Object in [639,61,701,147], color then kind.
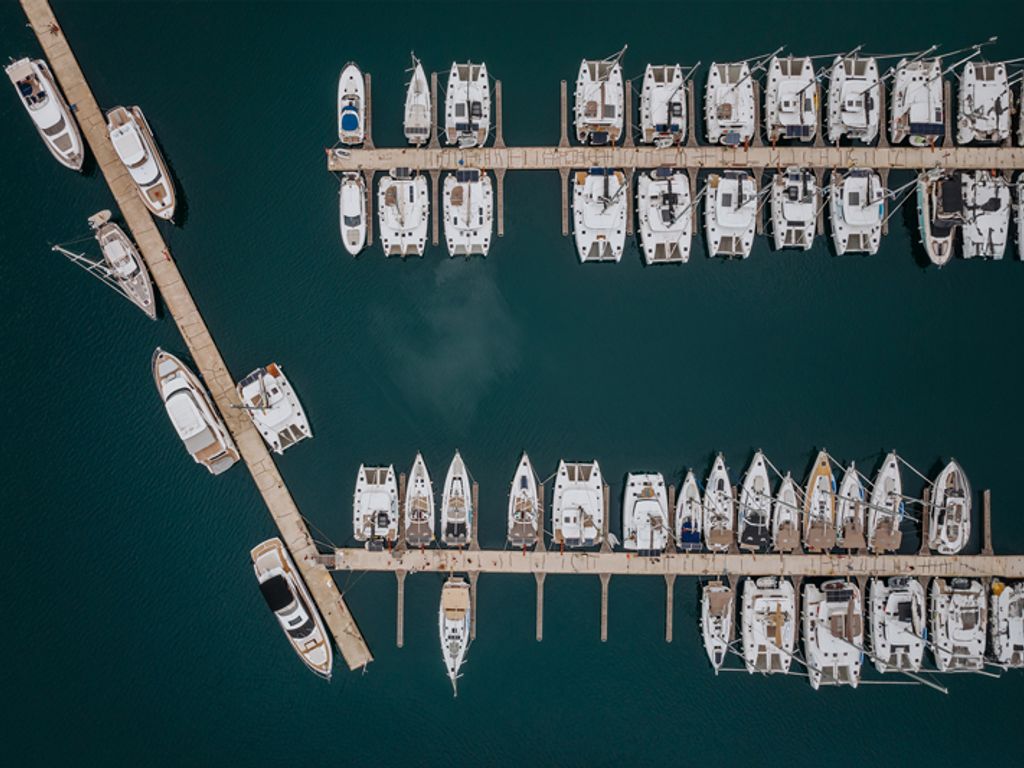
white boat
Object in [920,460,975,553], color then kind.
gray boat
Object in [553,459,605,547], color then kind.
white boat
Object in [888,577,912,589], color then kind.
gray boat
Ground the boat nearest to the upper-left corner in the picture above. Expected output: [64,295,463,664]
[8,57,96,174]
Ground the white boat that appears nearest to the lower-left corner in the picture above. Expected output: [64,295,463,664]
[253,537,334,681]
